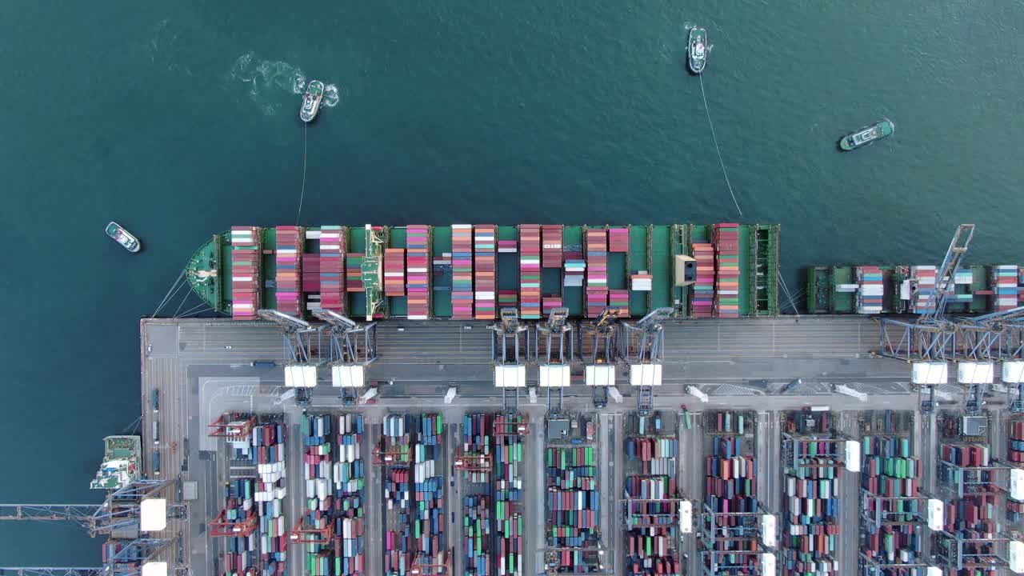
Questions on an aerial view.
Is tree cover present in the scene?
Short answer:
No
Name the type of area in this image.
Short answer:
port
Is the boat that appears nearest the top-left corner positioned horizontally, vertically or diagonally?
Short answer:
diagonally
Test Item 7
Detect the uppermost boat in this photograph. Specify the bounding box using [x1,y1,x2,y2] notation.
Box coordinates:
[688,27,707,73]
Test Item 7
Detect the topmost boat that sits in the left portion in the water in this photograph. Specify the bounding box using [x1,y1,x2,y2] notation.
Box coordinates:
[300,79,326,123]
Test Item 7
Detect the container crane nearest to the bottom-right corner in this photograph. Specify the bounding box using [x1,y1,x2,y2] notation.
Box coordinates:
[933,531,1024,575]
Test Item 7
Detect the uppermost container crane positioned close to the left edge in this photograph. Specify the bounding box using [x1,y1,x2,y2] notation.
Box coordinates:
[0,469,197,535]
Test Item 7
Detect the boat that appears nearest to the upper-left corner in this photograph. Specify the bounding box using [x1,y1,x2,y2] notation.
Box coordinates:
[103,219,142,254]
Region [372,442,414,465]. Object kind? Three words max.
container crane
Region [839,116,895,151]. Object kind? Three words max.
boat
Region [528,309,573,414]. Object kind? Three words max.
container crane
